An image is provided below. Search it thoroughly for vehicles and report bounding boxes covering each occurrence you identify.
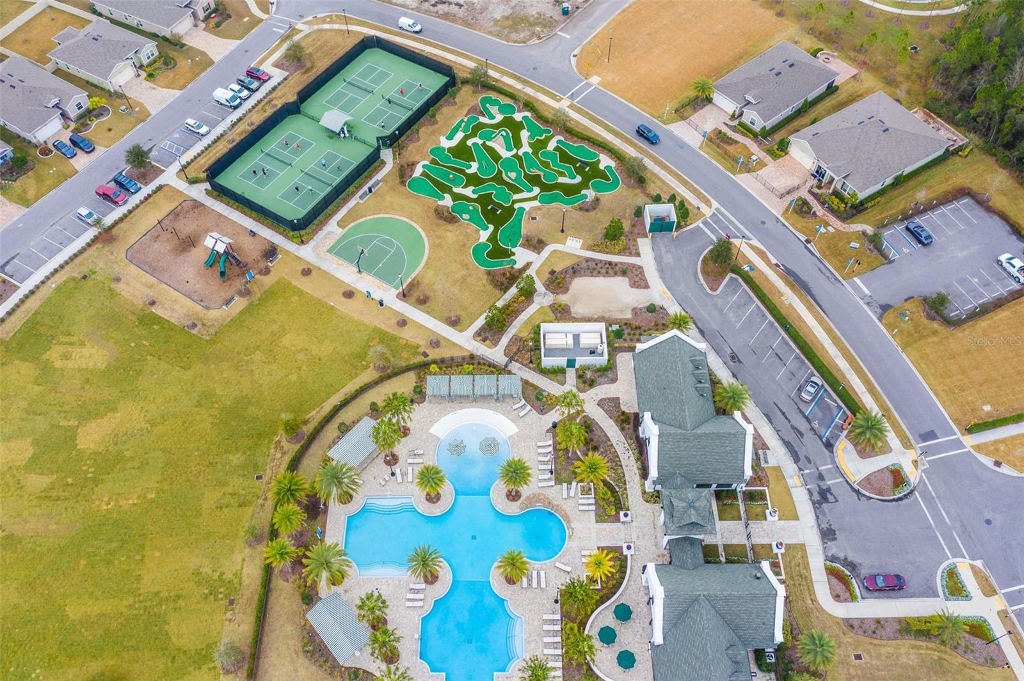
[864,573,911,593]
[397,14,422,32]
[906,220,937,246]
[245,64,269,82]
[212,85,240,107]
[226,81,250,99]
[93,182,126,205]
[799,374,826,404]
[635,122,662,144]
[73,205,98,224]
[67,131,94,152]
[999,251,1024,282]
[111,172,140,194]
[51,138,75,157]
[235,73,259,91]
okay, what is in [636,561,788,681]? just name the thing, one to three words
building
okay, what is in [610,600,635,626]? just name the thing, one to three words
umbrella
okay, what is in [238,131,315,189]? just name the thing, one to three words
sports court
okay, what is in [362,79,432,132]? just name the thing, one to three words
sports court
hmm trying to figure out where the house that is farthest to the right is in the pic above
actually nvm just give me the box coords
[788,89,949,202]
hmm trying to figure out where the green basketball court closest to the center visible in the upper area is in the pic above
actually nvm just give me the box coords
[328,214,430,291]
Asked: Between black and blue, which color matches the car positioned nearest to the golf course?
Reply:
blue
